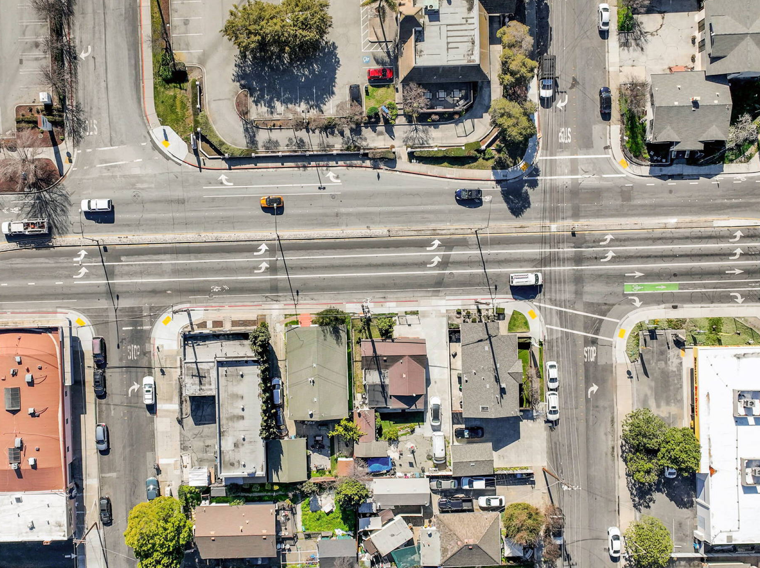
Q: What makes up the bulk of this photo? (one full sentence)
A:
Most of the picture is covered by paved ground.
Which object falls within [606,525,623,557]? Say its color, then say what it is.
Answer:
white car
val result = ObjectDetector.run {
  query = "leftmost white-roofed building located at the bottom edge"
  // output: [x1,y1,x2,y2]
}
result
[0,493,75,546]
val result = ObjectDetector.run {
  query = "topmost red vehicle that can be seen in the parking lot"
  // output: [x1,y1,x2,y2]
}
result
[366,65,394,81]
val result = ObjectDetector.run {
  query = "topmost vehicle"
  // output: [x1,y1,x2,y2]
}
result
[596,3,612,32]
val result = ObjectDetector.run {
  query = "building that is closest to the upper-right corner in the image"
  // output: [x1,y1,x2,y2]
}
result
[688,0,760,84]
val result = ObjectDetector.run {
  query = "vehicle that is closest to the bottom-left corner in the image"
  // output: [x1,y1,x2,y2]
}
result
[98,495,113,523]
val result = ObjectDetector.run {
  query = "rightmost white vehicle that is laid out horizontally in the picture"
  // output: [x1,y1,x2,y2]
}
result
[508,271,542,287]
